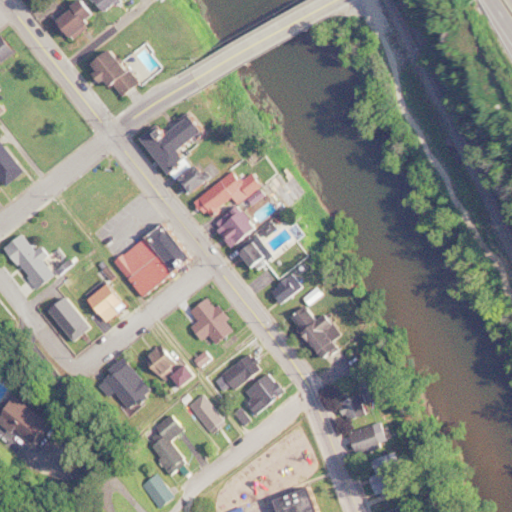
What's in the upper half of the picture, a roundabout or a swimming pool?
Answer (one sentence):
What appears in the upper half of the picture is a swimming pool.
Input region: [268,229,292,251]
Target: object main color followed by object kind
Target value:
blue swimming pool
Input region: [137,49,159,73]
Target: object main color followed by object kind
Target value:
white swimming pool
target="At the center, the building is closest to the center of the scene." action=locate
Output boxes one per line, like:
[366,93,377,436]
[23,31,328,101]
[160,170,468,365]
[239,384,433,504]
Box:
[238,236,272,268]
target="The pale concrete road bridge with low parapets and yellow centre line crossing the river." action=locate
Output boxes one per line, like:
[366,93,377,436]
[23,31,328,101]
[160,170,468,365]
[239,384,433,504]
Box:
[186,0,358,93]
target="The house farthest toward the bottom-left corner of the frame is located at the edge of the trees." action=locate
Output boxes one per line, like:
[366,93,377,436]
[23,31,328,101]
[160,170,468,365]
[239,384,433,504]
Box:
[0,396,36,438]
